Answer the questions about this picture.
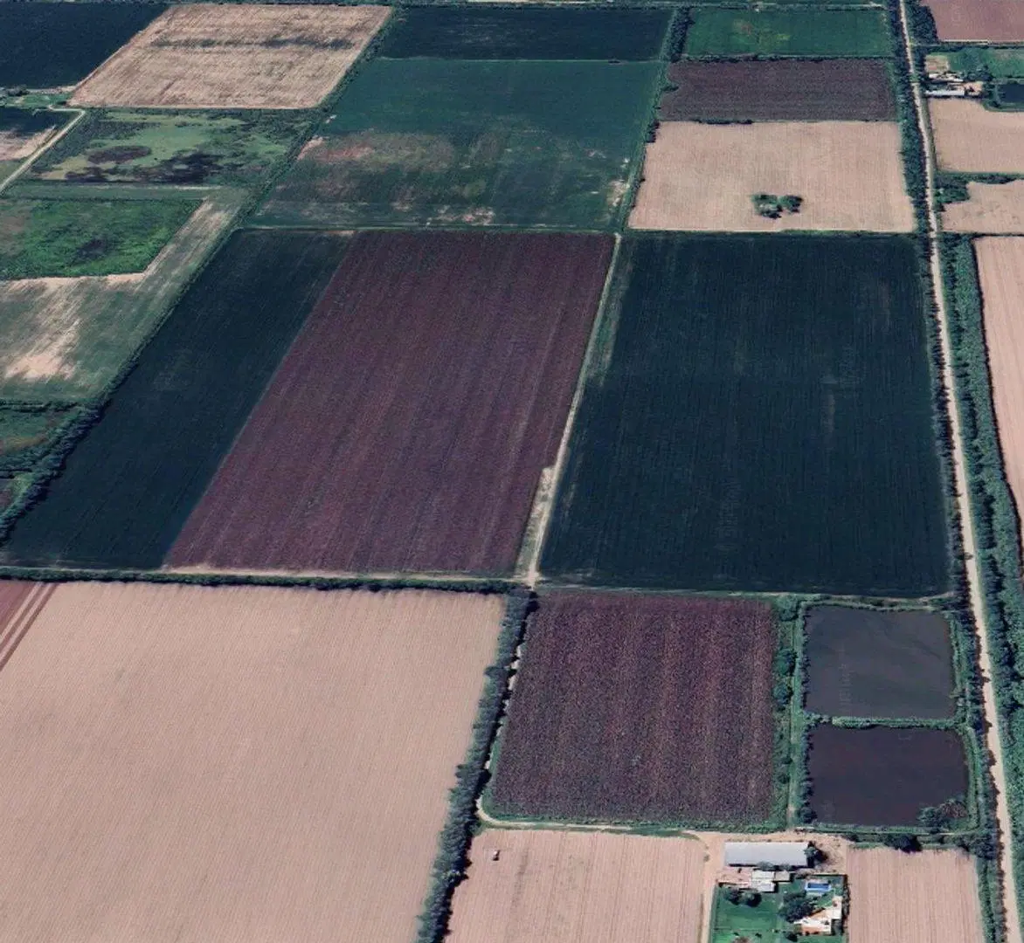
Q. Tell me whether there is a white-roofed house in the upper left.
No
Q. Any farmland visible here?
Yes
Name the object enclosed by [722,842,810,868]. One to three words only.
shed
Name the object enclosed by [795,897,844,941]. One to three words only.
house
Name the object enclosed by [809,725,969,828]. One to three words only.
pond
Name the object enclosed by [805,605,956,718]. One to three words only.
pond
